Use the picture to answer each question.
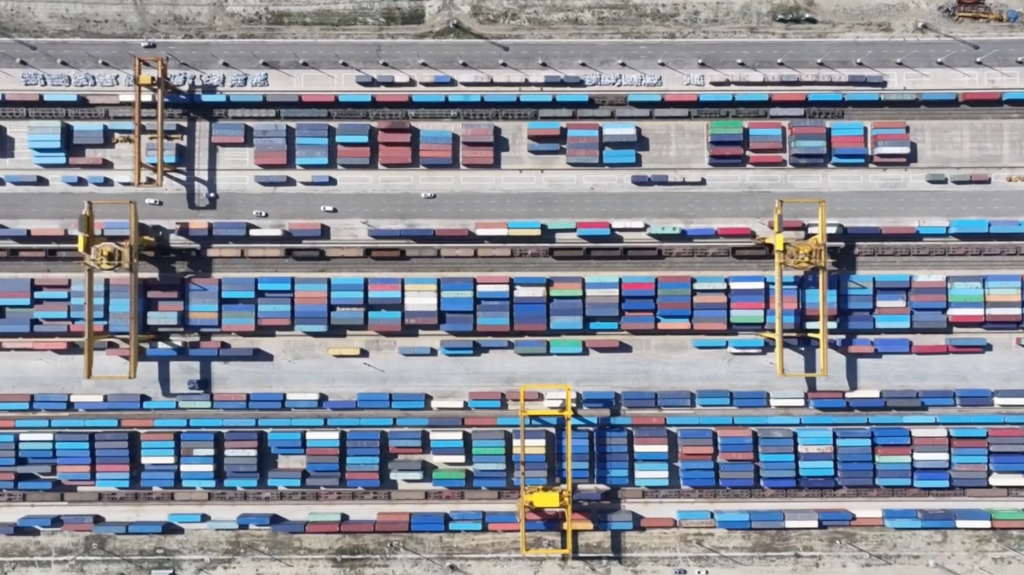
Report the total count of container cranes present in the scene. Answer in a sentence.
My tally gives 4 container cranes in this view.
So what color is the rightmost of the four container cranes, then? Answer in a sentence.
The color of the rightmost of the four container cranes is yellow.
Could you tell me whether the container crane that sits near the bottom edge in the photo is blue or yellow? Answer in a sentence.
The container crane that sits near the bottom edge looks yellow in the image.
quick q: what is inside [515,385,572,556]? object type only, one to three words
container crane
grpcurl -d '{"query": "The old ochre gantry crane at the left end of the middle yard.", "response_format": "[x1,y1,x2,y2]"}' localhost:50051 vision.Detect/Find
[77,201,164,379]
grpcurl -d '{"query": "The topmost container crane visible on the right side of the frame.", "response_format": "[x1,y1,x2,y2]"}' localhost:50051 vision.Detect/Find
[756,199,827,376]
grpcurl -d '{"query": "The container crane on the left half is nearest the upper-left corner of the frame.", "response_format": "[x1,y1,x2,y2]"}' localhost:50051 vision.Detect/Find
[133,57,183,186]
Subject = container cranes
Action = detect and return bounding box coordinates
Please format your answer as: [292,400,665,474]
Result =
[133,57,183,186]
[515,385,572,556]
[77,201,164,379]
[756,199,827,376]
